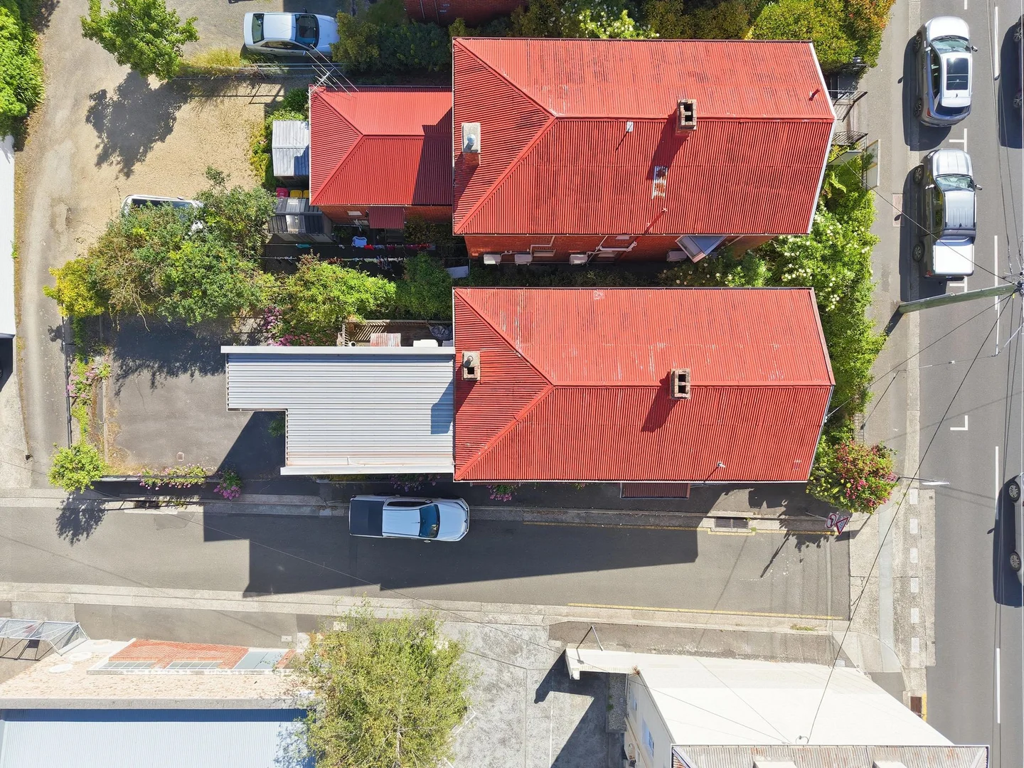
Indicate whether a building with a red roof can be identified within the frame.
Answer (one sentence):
Yes, this view includes a building with a red roof.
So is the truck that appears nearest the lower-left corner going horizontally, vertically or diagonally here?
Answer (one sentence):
I'd say the truck that appears nearest the lower-left corner is aligned horizontally in the picture.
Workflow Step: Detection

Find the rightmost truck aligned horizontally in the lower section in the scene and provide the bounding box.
[348,494,467,547]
